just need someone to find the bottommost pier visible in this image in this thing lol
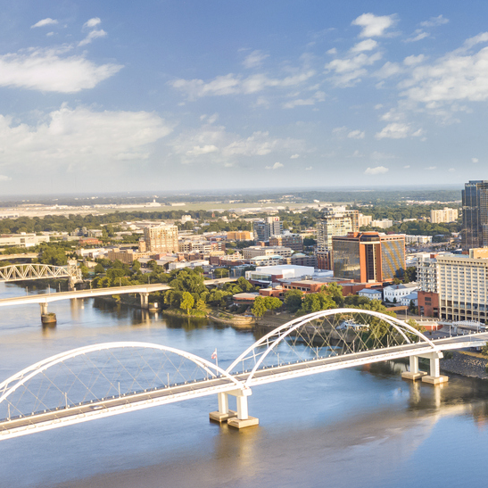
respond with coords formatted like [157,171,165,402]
[211,384,264,427]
